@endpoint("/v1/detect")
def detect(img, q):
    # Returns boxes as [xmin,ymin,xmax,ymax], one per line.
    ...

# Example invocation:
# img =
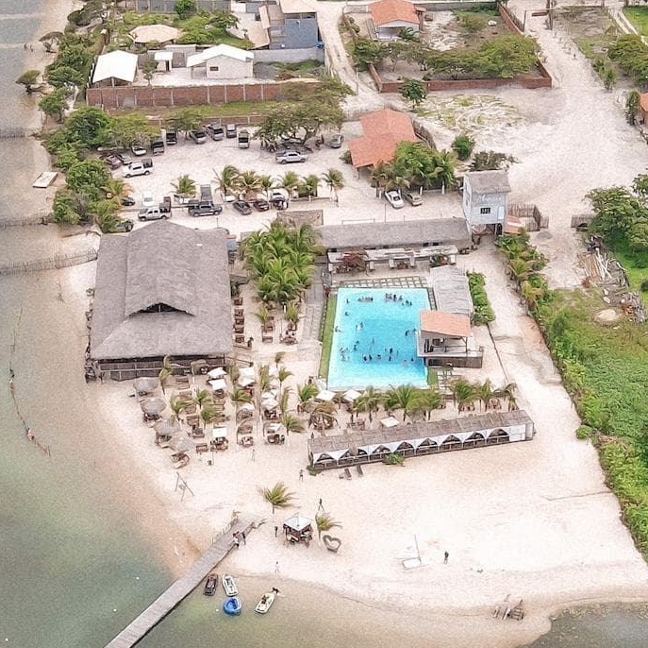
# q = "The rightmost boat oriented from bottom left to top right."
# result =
[253,591,274,616]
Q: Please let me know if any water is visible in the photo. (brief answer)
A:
Yes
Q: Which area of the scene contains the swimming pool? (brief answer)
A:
center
